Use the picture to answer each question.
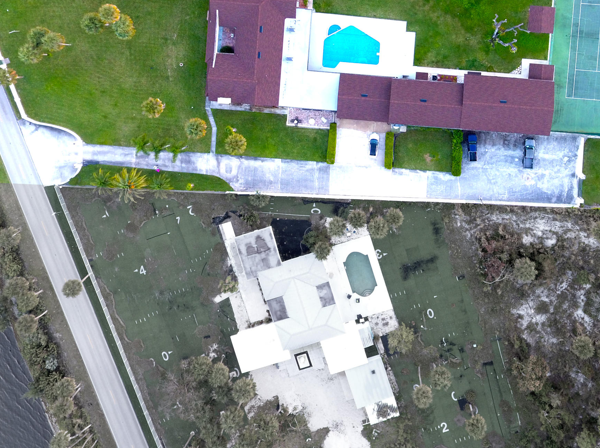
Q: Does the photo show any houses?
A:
Yes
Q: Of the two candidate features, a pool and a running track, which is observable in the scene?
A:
pool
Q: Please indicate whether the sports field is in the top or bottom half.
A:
bottom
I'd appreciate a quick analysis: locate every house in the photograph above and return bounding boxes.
[204,0,340,111]
[219,220,374,374]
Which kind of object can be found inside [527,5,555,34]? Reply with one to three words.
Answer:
building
